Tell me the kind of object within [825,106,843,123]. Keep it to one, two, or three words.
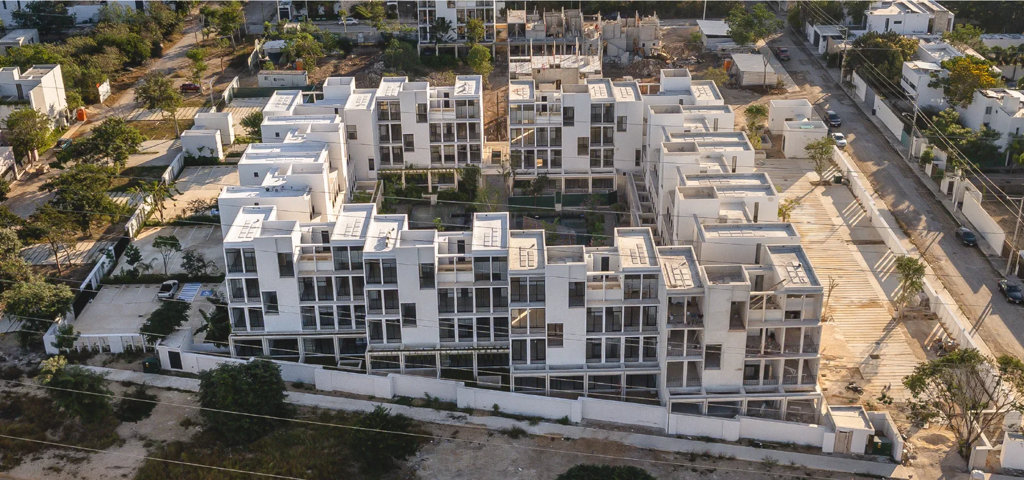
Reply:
car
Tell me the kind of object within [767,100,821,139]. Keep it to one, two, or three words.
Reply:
building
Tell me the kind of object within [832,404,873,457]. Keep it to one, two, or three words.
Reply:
shed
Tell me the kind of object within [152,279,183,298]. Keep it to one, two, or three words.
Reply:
car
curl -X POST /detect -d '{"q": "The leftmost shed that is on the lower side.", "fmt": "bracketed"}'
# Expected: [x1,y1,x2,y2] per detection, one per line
[157,326,193,367]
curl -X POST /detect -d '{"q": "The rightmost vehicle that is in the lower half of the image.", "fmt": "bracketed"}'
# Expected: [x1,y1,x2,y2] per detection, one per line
[1000,277,1024,299]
